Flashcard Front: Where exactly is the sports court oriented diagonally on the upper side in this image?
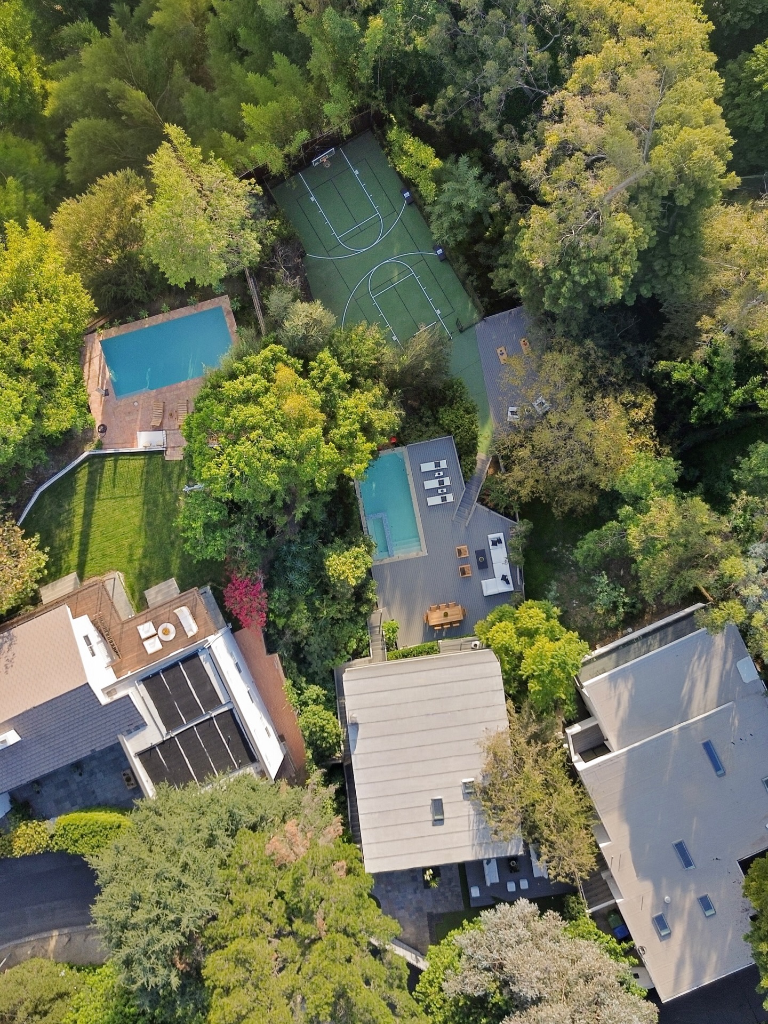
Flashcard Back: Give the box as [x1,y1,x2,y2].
[271,133,491,456]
